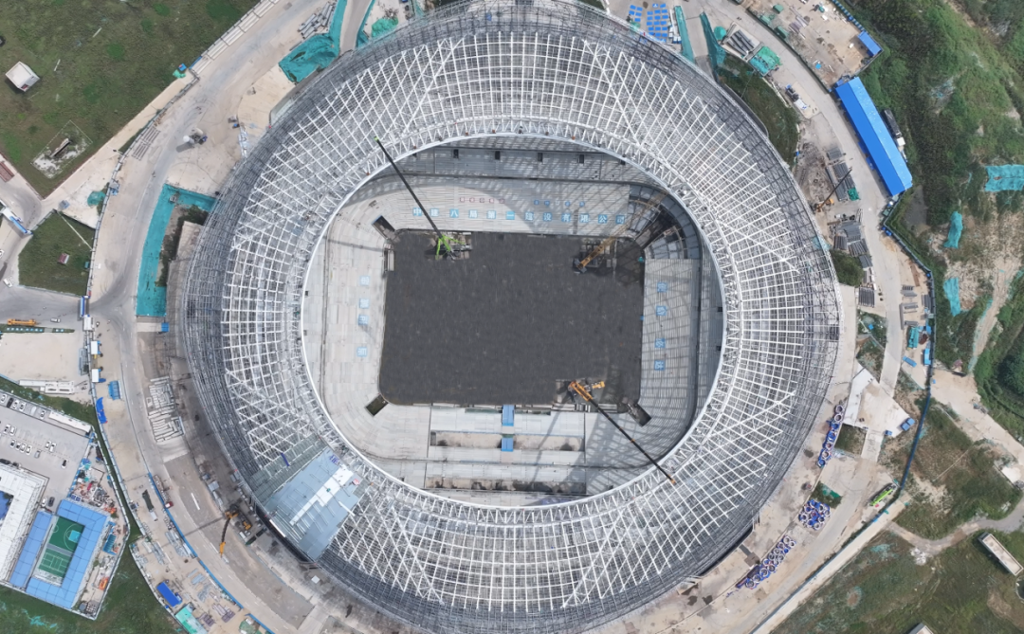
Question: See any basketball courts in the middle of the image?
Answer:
No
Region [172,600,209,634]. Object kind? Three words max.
shed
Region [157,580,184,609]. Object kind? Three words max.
shed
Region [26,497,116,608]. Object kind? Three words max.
building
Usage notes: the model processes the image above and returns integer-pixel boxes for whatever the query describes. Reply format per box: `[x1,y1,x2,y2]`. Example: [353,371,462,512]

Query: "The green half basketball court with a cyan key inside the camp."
[49,517,83,552]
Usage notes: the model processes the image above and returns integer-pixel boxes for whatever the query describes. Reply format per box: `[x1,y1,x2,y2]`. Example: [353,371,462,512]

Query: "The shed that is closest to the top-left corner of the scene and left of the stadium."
[7,62,42,95]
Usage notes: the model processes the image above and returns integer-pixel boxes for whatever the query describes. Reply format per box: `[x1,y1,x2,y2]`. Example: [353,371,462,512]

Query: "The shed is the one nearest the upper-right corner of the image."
[855,31,881,58]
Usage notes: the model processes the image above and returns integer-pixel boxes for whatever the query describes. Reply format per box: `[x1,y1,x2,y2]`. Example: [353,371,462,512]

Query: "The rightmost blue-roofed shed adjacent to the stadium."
[830,73,914,200]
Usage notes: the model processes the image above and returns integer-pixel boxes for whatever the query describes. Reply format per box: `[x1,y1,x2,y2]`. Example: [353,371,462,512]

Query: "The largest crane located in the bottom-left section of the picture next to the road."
[217,506,253,559]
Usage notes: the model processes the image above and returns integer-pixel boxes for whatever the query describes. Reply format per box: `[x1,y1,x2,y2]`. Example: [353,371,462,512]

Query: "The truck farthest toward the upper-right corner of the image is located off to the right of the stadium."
[884,109,906,145]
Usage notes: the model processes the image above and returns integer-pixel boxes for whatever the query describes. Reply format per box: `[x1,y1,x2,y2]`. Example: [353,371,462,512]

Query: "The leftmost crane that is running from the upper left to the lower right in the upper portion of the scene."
[376,139,470,262]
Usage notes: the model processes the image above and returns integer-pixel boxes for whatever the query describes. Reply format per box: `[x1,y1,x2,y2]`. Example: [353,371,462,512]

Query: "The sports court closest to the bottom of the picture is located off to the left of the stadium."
[39,549,72,579]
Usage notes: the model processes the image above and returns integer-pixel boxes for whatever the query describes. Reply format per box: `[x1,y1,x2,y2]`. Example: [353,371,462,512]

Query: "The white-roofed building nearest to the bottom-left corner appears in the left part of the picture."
[0,455,56,580]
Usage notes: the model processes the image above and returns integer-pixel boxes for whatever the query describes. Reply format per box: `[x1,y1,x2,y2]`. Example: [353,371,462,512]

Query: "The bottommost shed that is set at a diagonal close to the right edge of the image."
[977,531,1023,575]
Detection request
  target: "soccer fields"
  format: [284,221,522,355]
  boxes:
[380,227,646,411]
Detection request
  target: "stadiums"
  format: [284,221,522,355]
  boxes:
[178,0,849,634]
